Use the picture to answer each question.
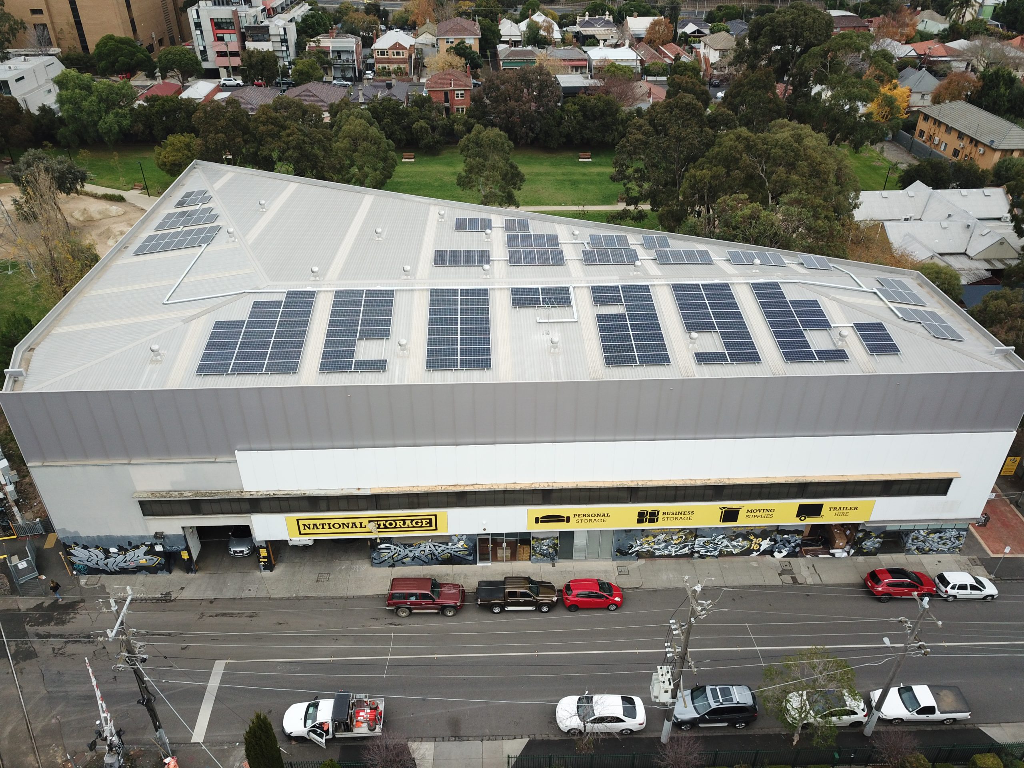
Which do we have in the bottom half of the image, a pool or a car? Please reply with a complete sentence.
The feature located in the bottom half of the image is a car.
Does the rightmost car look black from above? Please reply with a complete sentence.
No, the color of the rightmost car is white.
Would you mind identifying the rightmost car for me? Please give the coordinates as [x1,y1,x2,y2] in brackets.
[929,568,997,601]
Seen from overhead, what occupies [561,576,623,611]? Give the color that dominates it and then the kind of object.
red car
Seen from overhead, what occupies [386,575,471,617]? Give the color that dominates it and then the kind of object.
red car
